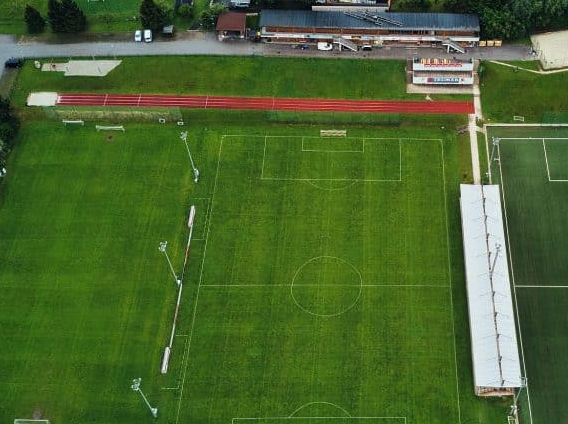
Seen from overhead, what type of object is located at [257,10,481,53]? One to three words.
building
